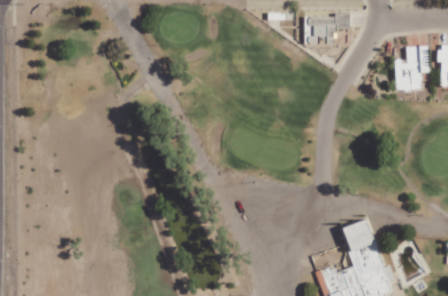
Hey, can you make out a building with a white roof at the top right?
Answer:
Yes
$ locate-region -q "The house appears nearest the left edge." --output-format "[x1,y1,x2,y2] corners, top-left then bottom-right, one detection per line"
[305,16,336,44]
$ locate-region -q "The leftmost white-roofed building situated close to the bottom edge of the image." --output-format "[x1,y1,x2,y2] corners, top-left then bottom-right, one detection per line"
[316,220,396,296]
